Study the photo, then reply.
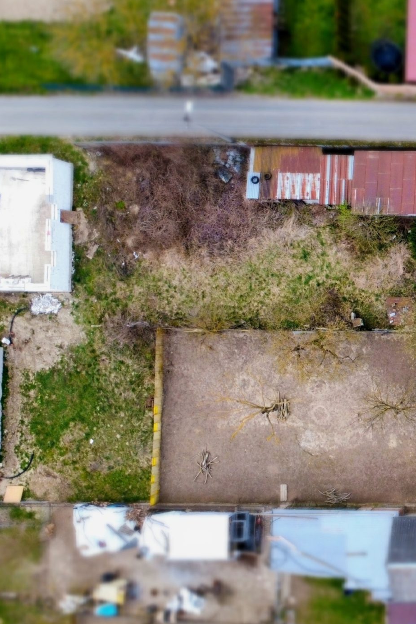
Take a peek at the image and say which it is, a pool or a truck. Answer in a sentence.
The one in the frame is a truck.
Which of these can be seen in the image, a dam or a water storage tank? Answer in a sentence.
Visible in the photo is a water storage tank.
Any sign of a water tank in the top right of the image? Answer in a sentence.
Yes, there is a water tank in the top right of the image.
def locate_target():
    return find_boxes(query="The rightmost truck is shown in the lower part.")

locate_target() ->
[232,512,264,547]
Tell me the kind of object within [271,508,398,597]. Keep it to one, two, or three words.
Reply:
shed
